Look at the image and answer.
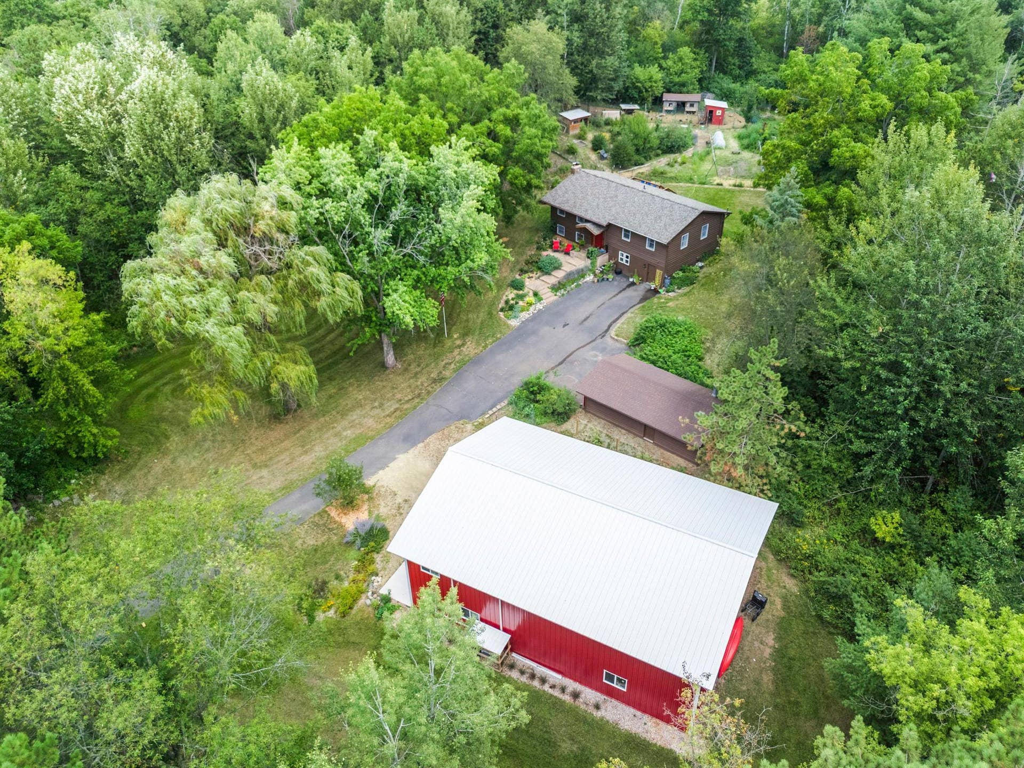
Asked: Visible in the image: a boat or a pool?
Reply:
boat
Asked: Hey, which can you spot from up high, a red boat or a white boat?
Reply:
red boat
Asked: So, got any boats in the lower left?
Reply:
No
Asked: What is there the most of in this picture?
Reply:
trees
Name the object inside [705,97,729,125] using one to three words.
shed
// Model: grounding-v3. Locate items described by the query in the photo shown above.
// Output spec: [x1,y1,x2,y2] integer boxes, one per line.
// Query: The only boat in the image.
[722,613,750,681]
